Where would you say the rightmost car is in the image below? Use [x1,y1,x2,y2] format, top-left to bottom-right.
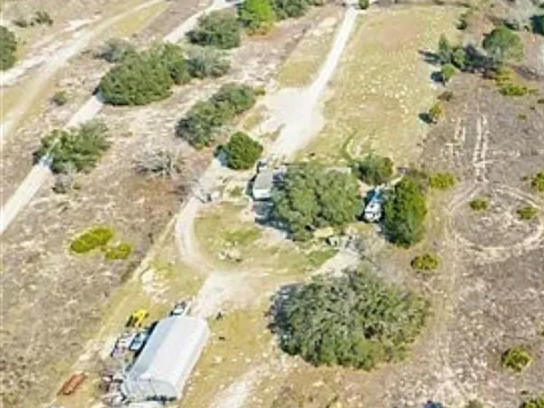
[162,300,191,320]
